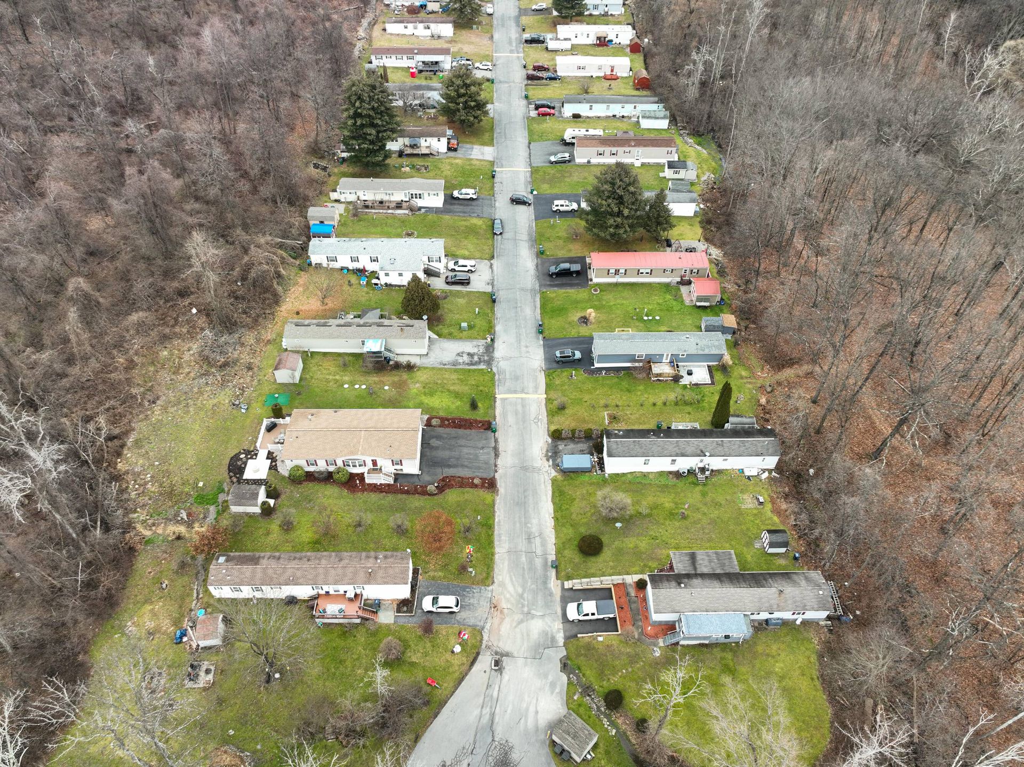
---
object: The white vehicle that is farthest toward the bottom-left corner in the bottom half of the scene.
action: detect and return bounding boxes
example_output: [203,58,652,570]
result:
[422,593,461,613]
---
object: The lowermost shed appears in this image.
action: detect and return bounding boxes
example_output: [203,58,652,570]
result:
[552,709,600,764]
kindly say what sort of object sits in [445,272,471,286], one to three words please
car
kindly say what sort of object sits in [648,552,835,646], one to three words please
house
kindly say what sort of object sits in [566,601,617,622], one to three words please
truck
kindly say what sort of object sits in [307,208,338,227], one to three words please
shed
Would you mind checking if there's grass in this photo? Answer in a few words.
Yes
